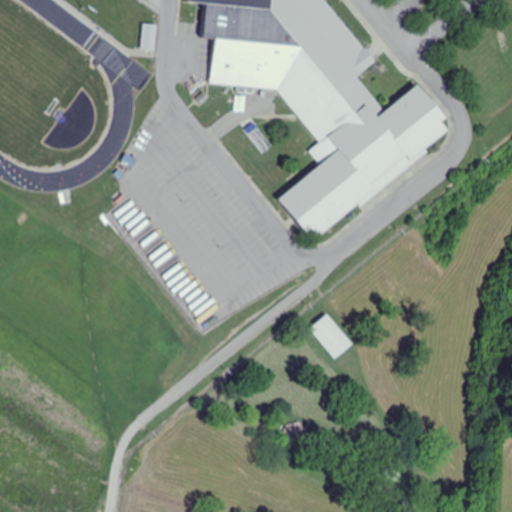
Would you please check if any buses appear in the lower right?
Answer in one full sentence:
No, I see no bus in the lower right.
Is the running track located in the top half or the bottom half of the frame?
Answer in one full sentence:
It is in the top half that the running track appears.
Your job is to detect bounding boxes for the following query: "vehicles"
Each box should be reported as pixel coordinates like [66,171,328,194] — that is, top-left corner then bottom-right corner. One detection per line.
[122,211,148,231]
[110,198,136,220]
[160,260,186,281]
[146,241,172,262]
[164,268,190,288]
[136,228,163,250]
[184,292,210,312]
[206,316,217,324]
[126,217,152,238]
[136,134,148,146]
[115,207,141,227]
[140,129,152,140]
[132,141,144,152]
[168,274,194,295]
[191,298,217,318]
[150,248,176,269]
[180,284,206,306]
[194,304,220,324]
[176,278,202,299]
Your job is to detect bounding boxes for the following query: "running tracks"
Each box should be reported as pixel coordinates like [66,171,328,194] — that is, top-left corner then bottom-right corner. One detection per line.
[0,0,151,192]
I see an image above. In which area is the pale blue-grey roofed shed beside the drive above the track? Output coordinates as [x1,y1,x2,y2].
[139,24,157,52]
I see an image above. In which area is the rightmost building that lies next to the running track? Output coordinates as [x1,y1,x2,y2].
[182,0,448,234]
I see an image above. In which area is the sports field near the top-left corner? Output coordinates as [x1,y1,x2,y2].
[0,0,108,168]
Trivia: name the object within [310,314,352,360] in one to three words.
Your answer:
barn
